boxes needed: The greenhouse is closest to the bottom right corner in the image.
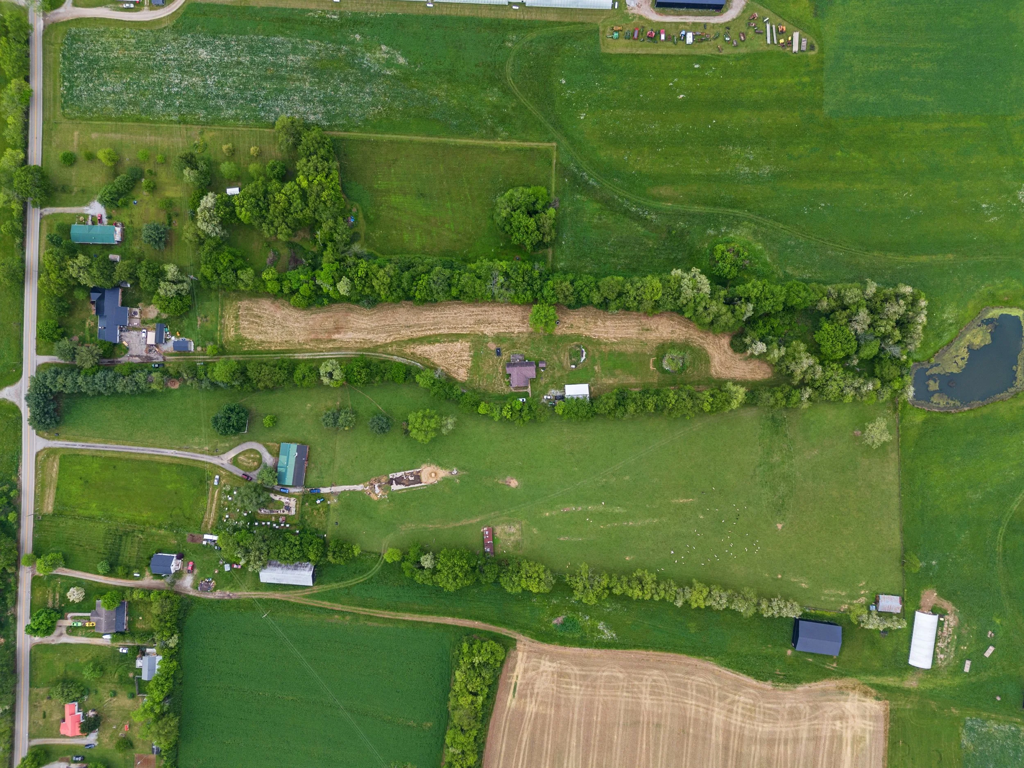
[908,612,940,671]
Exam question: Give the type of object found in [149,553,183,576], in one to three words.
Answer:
house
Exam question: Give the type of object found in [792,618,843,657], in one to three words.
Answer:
barn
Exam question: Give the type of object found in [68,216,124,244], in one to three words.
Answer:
house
